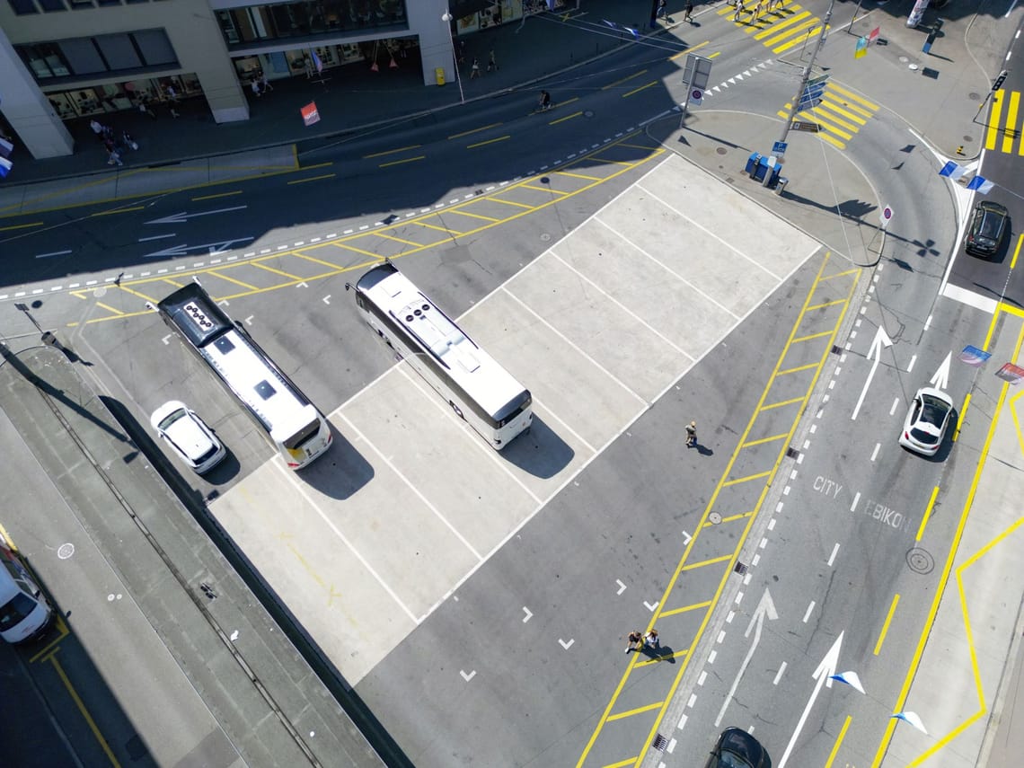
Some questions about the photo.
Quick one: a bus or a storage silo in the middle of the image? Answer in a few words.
bus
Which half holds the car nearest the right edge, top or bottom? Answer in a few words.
top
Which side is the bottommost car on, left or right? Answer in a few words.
right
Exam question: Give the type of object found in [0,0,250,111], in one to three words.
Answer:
building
